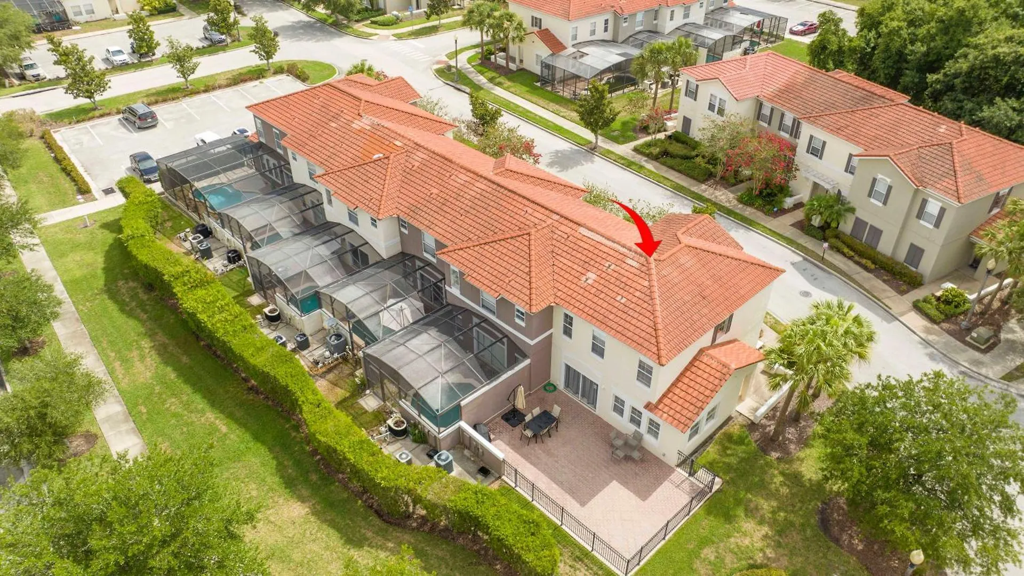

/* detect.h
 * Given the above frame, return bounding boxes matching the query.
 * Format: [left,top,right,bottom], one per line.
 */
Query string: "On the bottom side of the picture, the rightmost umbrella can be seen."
[504,384,528,426]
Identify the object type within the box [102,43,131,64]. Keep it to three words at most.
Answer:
car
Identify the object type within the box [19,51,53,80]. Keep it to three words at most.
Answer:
car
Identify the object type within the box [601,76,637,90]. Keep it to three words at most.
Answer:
swimming pool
